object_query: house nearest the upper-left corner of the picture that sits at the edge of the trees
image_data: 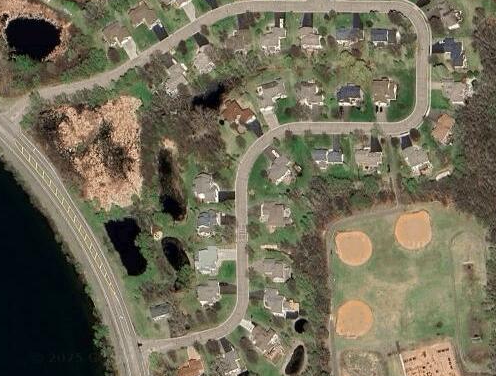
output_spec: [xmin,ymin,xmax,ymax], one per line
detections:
[102,20,134,47]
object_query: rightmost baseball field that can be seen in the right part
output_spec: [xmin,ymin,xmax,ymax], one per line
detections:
[394,209,432,249]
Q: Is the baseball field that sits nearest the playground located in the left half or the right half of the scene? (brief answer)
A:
right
